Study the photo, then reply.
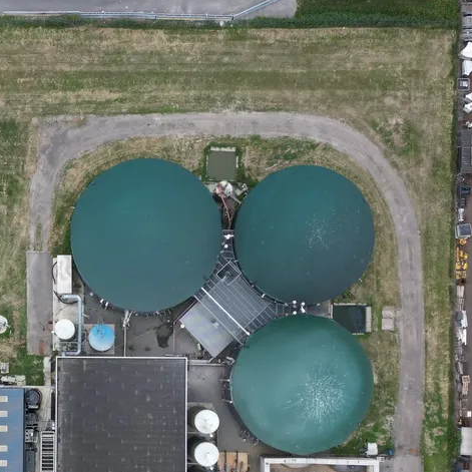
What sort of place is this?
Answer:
industrial area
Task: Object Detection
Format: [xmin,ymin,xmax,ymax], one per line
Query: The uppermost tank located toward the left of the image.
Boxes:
[71,159,227,317]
